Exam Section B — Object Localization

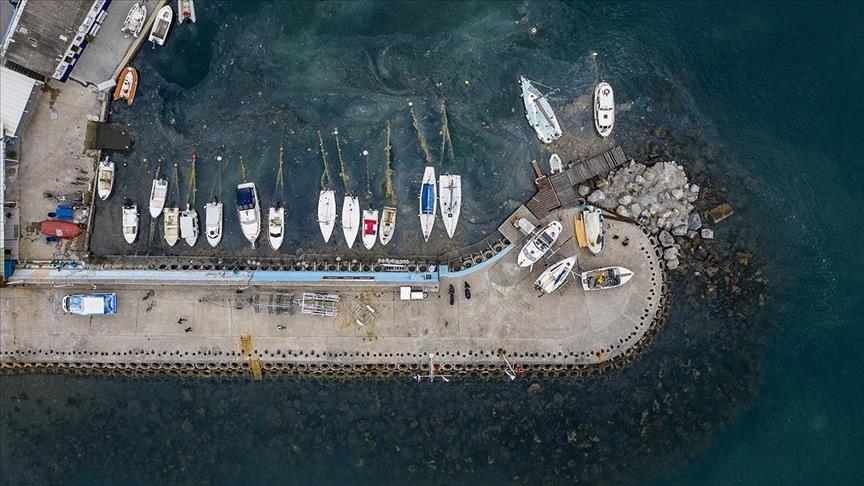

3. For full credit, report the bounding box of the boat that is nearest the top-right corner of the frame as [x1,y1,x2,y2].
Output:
[592,82,614,140]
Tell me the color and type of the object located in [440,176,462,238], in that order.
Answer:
white boat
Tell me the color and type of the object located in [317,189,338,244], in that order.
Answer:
white boat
